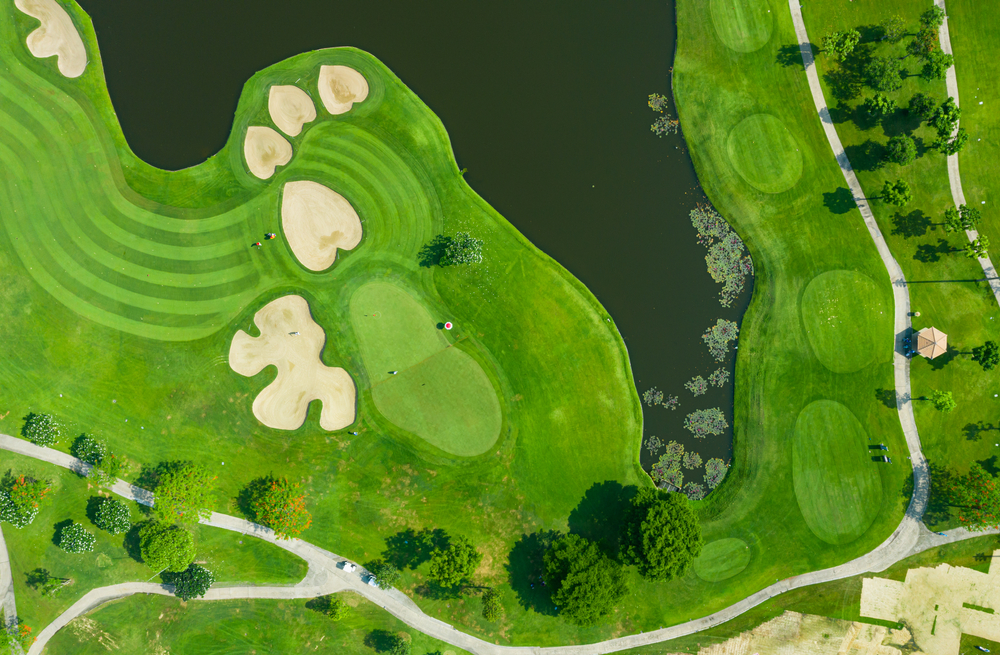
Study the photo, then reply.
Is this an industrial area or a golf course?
golf course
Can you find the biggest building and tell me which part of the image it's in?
right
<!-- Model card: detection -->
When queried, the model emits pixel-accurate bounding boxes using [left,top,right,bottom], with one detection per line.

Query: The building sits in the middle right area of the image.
[910,326,947,360]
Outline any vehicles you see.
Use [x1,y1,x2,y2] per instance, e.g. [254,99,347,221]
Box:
[342,561,355,573]
[368,575,381,587]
